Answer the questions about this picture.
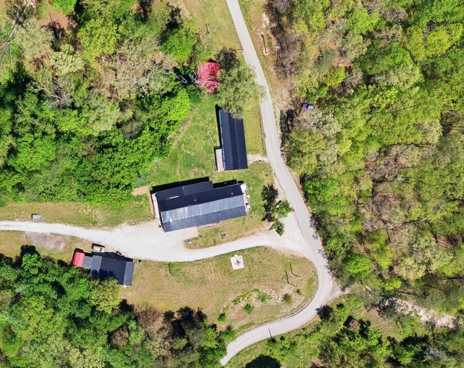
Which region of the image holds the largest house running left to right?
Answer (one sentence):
The largest house running left to right is located in the center region of the scene.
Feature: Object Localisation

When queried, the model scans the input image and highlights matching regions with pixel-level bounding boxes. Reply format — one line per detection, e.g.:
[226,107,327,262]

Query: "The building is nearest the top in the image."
[214,108,248,171]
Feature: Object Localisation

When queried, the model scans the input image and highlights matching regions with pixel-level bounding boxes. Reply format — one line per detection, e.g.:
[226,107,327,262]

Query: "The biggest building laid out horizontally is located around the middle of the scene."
[151,181,245,232]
